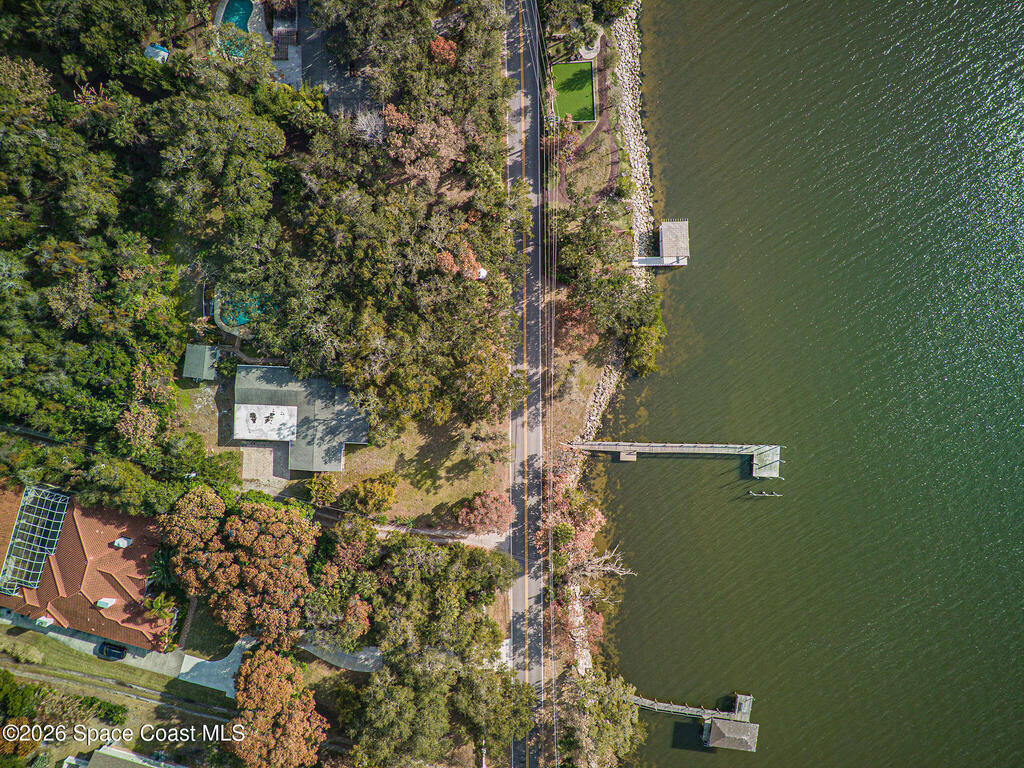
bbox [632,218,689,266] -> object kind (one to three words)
pier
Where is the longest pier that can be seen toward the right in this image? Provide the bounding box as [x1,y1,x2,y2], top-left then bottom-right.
[566,441,788,481]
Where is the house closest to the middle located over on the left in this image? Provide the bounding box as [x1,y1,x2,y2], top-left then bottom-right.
[233,364,369,472]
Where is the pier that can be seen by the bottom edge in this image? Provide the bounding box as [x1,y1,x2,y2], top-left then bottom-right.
[621,691,760,755]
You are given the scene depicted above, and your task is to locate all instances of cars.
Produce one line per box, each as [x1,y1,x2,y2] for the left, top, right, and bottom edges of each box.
[97,642,127,660]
